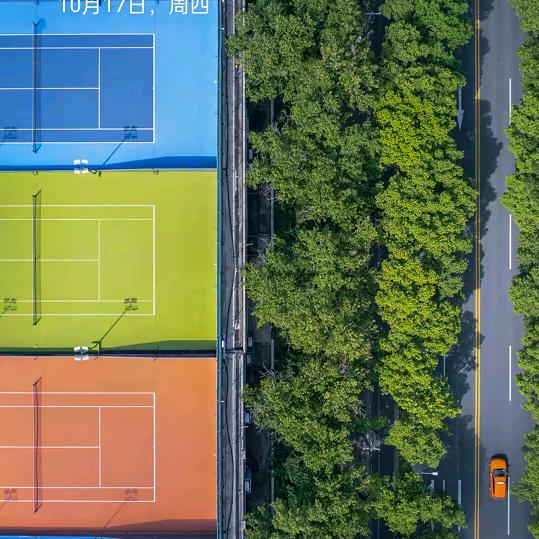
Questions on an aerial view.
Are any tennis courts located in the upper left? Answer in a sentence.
Yes, you'll find a tennis court in the upper left.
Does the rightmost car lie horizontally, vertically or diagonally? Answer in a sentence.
The rightmost car is laid out vertically.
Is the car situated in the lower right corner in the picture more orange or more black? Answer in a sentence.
In this view, the car situated in the lower right corner is orange.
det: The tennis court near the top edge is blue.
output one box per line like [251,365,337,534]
[0,1,216,170]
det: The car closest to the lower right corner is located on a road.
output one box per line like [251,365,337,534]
[488,457,510,500]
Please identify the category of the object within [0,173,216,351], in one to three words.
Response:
tennis court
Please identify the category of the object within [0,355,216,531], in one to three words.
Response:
tennis court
